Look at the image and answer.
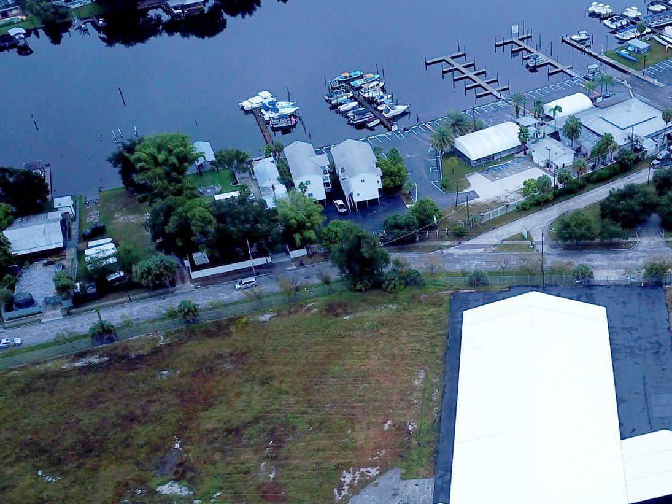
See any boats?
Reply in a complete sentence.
Yes, a boat can be made out from above.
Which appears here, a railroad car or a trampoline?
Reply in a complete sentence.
It is a trampoline that can be seen here.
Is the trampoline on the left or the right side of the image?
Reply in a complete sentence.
The trampoline appears in the left half of the scene.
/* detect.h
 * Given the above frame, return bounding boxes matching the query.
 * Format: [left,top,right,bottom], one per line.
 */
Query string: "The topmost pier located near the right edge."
[585,0,672,45]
